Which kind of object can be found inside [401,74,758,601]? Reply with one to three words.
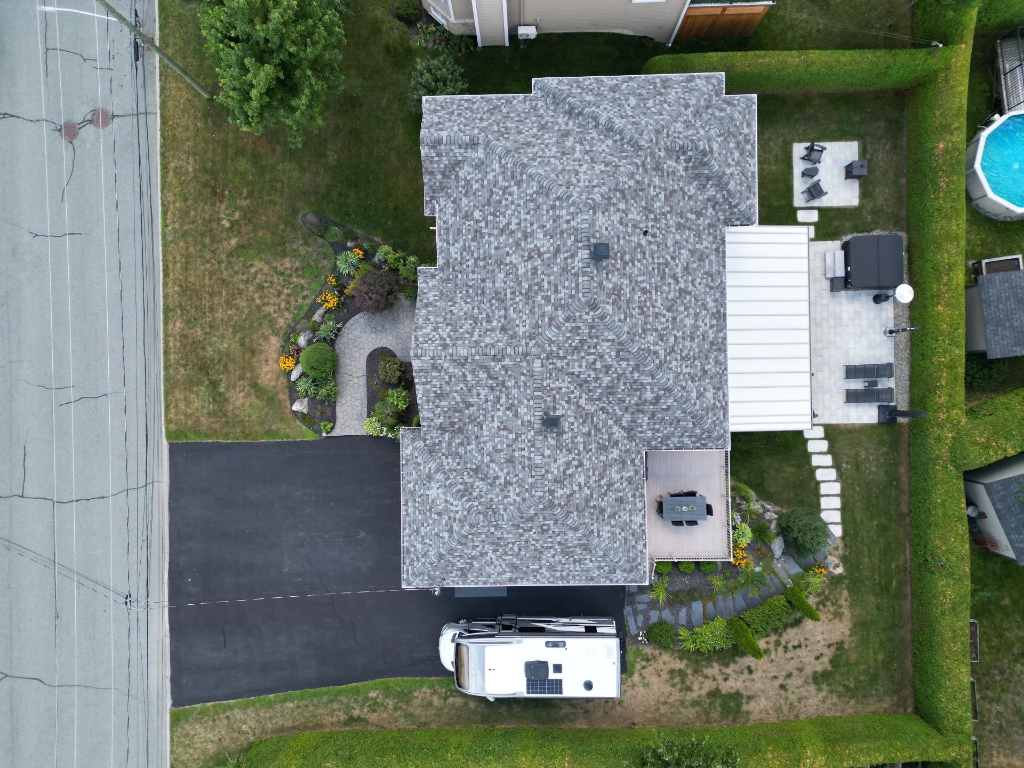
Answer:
house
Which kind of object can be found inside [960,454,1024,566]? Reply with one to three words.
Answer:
shed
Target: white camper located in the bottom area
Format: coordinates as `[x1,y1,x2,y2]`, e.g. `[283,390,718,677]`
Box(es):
[439,610,621,702]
